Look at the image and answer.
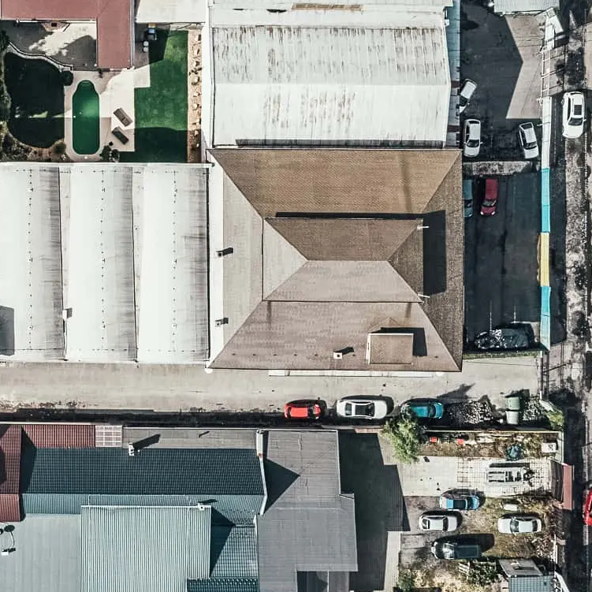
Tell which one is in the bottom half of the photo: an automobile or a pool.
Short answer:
automobile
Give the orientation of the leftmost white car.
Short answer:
from side to side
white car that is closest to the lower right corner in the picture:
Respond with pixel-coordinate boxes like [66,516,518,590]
[499,515,545,538]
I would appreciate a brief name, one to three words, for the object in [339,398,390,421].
car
